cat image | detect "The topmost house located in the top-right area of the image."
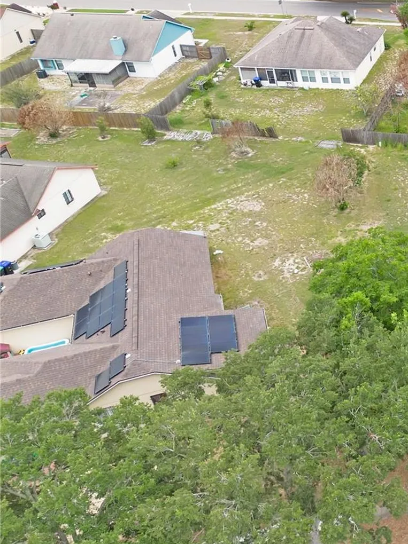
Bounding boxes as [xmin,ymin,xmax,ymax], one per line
[234,16,387,91]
